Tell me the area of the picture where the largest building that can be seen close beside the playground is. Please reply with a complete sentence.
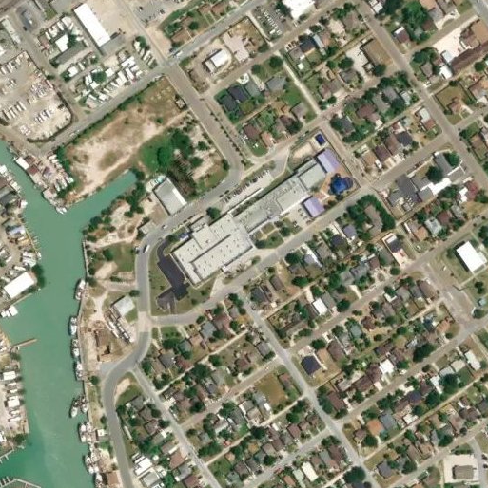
Look in the center portion of the view to spot the largest building that can be seen close beside the playground.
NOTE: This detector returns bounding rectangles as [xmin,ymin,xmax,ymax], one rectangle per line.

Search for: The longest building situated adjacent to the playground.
[173,160,326,284]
